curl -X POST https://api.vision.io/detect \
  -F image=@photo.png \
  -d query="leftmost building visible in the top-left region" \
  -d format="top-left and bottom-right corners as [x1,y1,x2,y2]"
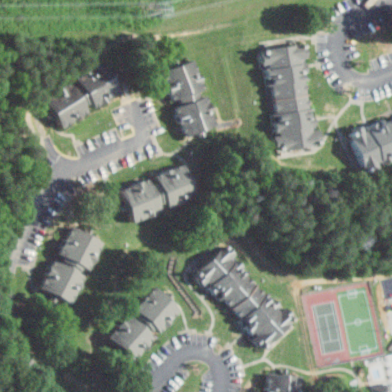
[45,66,114,129]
